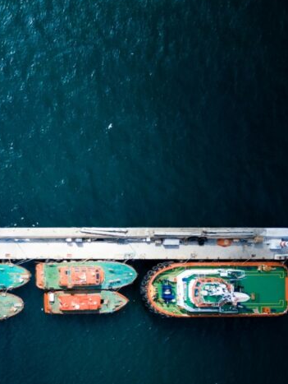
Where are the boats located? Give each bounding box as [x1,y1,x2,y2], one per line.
[0,294,24,320]
[140,257,288,320]
[43,290,130,314]
[0,263,32,292]
[36,261,139,291]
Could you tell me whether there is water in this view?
Yes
